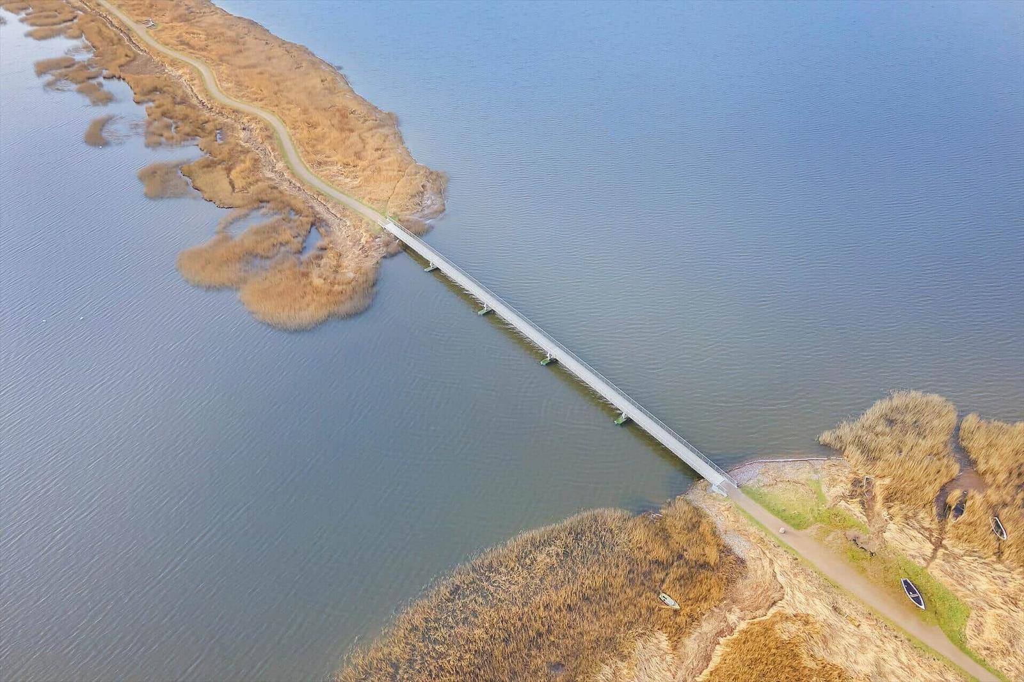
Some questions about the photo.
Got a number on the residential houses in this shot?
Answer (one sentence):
Not a single residential house can be seen.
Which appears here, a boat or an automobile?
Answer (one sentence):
The one in the frame is a boat.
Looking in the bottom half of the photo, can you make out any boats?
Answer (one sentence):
Yes, a boat shows up in the bottom half of the photo.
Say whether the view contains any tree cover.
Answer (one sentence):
No, there is no tree cover in the image.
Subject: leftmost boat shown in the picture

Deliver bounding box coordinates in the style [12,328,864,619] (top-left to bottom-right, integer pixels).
[658,592,681,611]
